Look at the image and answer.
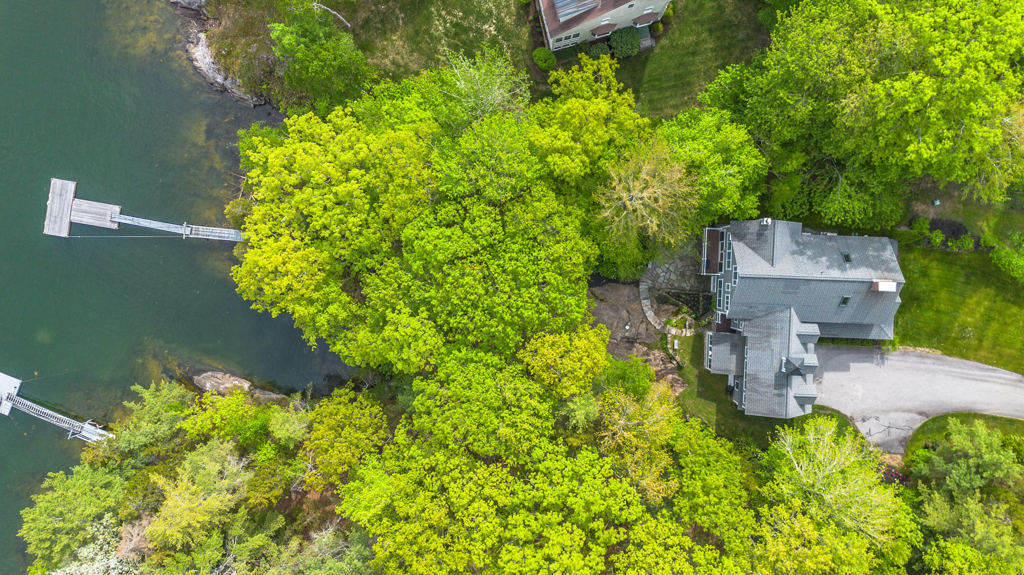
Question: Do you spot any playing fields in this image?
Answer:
No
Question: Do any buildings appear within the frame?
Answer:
Yes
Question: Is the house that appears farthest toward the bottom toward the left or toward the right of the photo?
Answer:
right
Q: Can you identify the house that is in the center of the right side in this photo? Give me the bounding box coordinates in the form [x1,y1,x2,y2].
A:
[696,217,905,422]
